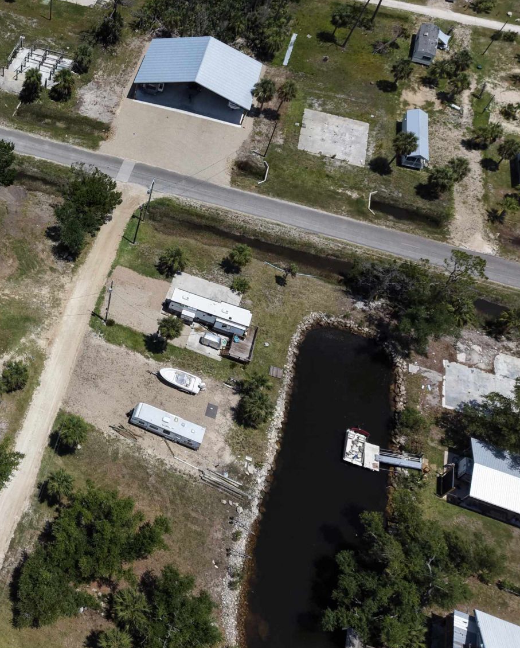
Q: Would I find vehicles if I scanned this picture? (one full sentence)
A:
Yes, the picture does show a vehicle.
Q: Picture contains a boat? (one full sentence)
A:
Yes, you can see a boat in this photo.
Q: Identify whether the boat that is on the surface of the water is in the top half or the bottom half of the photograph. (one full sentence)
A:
The boat that is on the surface of the water sits in the bottom half of the picture.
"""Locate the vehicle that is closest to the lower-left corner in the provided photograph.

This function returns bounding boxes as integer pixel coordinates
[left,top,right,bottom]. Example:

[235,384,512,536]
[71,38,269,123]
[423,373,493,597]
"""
[124,403,207,451]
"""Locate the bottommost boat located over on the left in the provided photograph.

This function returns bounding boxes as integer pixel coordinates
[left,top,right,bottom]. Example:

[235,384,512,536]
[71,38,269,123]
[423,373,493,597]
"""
[148,369,206,397]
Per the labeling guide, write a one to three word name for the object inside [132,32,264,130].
building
